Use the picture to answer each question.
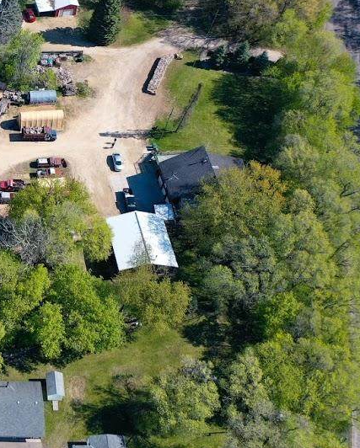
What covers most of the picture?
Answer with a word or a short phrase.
trees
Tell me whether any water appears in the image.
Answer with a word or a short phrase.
No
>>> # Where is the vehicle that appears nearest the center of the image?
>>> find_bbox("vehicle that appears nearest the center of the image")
[123,185,135,210]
